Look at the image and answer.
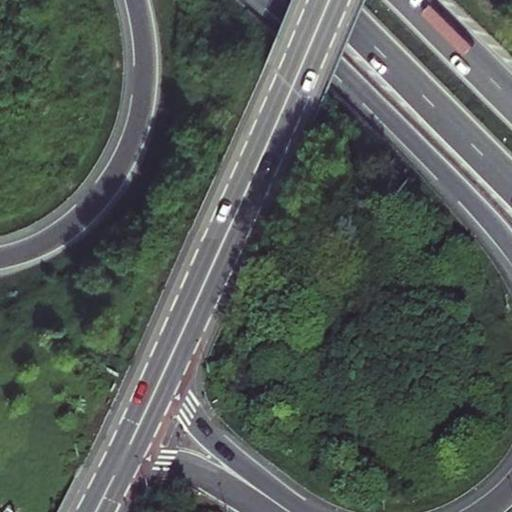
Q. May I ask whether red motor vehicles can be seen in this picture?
Yes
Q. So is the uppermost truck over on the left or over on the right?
right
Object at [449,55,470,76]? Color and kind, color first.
white car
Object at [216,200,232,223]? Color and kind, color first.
white car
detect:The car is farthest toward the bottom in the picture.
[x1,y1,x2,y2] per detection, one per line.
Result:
[215,441,236,462]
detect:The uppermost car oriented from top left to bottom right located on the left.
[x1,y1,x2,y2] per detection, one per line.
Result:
[196,416,214,437]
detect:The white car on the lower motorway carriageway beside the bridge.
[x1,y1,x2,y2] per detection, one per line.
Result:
[368,54,388,74]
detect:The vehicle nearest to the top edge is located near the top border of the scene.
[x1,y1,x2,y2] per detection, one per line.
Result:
[410,0,473,54]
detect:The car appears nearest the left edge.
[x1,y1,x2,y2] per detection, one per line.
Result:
[132,380,148,404]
